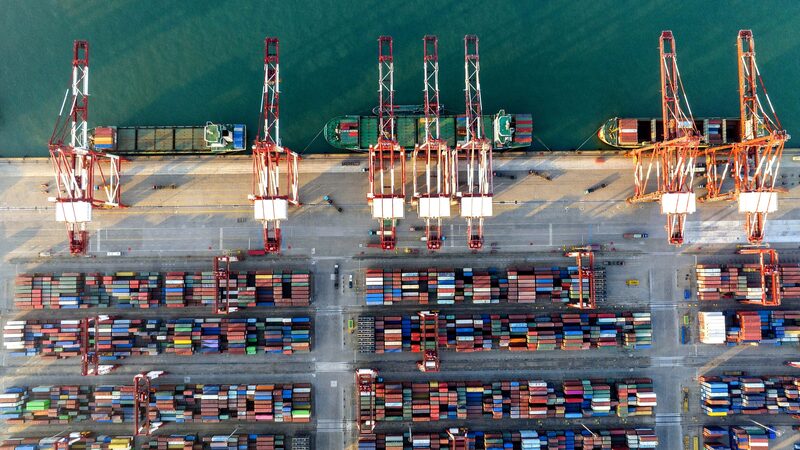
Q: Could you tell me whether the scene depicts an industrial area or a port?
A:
port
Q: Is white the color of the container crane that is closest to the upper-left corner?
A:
Yes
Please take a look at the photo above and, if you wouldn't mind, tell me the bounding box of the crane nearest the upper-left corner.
[45,38,125,254]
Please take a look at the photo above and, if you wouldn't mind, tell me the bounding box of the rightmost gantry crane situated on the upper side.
[701,30,785,247]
